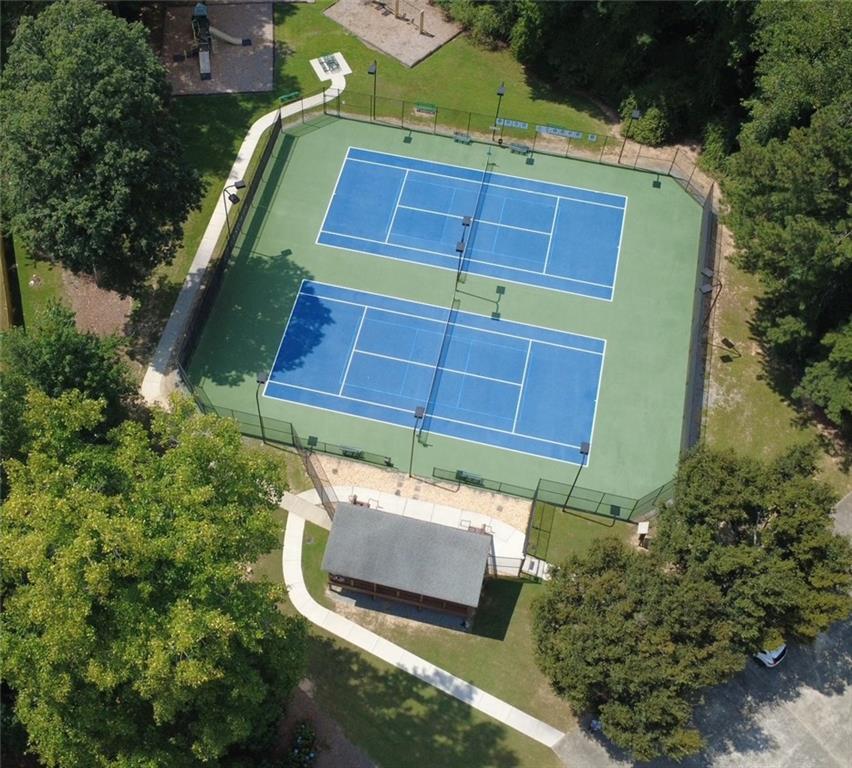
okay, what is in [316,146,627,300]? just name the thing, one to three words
tennis court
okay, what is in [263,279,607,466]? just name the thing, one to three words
tennis court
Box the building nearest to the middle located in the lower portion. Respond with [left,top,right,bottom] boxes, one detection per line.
[321,501,492,620]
